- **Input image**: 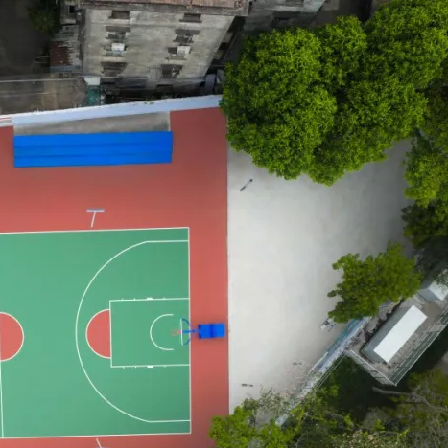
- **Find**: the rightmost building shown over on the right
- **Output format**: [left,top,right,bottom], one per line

[415,281,448,303]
